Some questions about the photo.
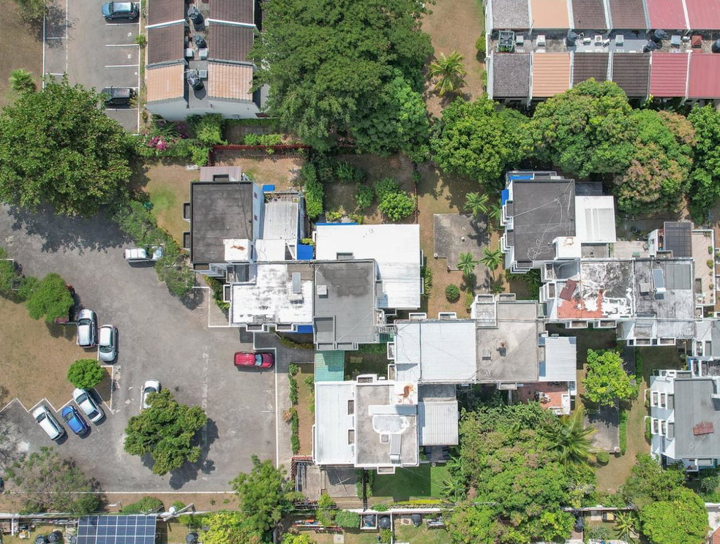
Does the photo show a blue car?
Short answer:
Yes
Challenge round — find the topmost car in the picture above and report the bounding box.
[103,1,139,22]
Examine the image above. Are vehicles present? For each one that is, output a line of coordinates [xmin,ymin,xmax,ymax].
[103,88,136,106]
[122,246,163,264]
[77,310,97,347]
[35,405,66,442]
[98,325,118,362]
[74,391,105,425]
[234,350,275,369]
[103,1,139,22]
[142,381,161,400]
[62,403,90,439]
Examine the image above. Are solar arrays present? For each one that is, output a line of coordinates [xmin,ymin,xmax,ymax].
[74,515,160,544]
